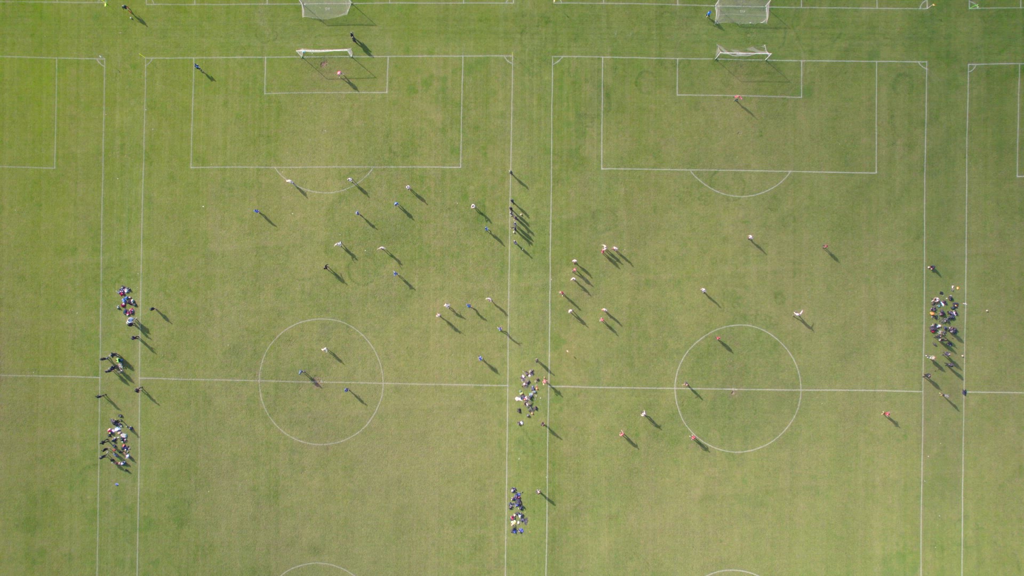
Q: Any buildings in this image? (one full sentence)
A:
No, there is no building in the image.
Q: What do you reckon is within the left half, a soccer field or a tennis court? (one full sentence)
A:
You can see a soccer field within the left half.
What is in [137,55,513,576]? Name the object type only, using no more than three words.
soccer field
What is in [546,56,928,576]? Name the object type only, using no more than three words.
soccer field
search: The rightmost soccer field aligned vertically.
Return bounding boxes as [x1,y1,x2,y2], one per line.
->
[962,63,1024,576]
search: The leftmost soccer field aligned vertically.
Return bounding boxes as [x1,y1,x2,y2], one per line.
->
[0,56,105,576]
